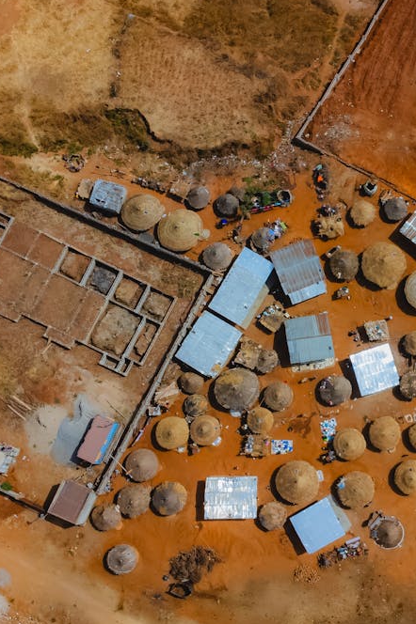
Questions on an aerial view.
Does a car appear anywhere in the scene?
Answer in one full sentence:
No, I can see no car in this picture.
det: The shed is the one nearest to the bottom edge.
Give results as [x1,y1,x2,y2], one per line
[103,541,137,573]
